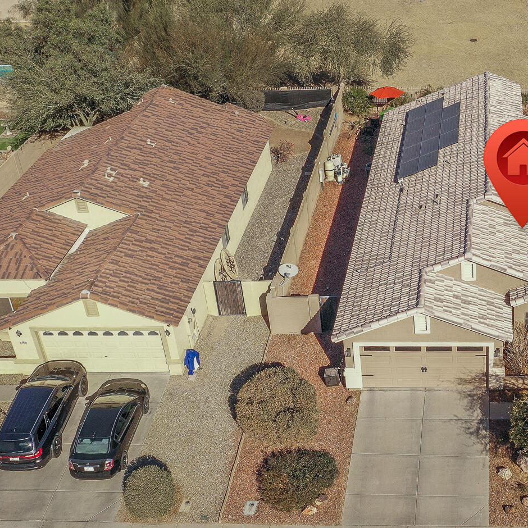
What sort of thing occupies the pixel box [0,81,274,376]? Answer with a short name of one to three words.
house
